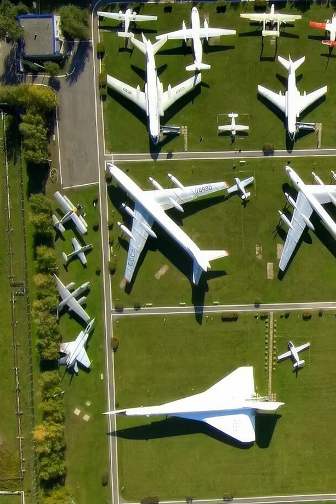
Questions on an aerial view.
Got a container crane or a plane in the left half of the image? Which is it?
plane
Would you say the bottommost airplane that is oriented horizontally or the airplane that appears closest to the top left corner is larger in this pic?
the bottommost airplane that is oriented horizontally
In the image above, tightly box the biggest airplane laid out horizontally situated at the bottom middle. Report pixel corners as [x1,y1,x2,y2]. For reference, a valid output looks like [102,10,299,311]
[105,364,282,442]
